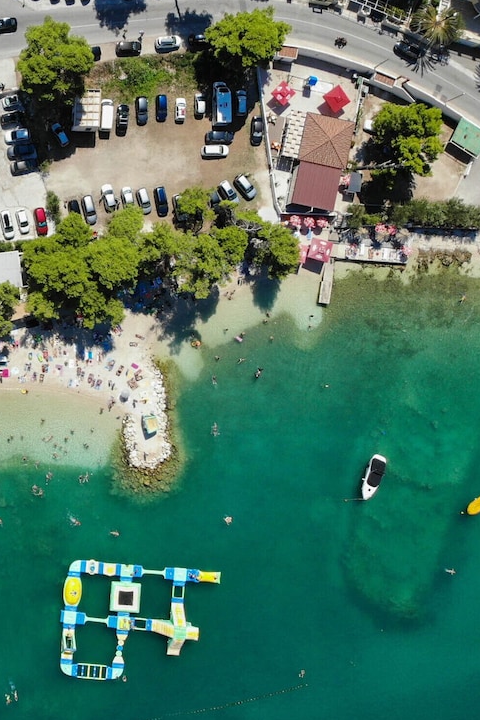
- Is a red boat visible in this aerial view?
No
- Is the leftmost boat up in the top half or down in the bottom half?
bottom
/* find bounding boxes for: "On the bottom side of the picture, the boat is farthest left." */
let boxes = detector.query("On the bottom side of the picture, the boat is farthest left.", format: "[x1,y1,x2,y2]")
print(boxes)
[361,452,386,500]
